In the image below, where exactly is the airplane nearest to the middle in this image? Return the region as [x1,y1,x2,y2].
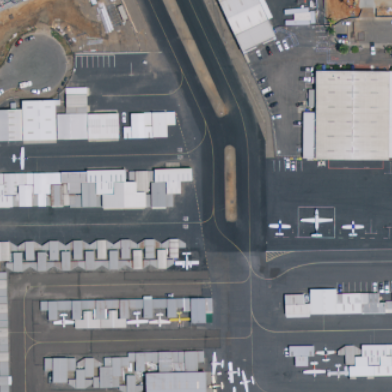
[175,252,200,270]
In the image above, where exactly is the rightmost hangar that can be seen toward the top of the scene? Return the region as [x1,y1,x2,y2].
[316,70,392,161]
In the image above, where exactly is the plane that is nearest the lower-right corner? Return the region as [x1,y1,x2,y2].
[328,363,349,378]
